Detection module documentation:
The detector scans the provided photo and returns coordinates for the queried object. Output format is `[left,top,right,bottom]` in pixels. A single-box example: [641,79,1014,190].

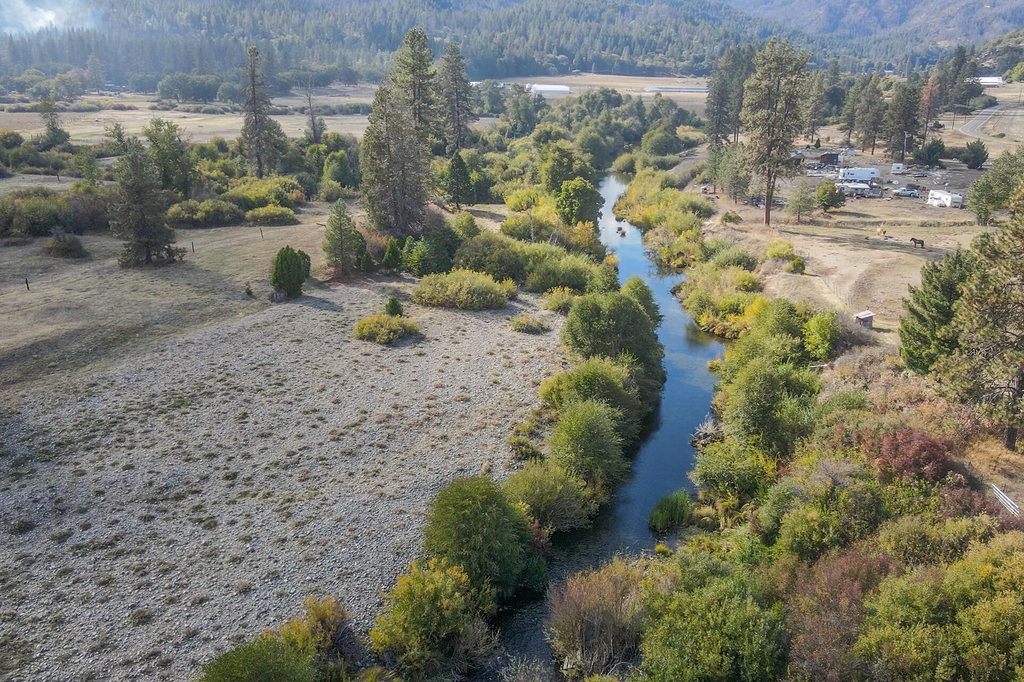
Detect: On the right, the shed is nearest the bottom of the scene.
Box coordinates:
[852,298,879,327]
